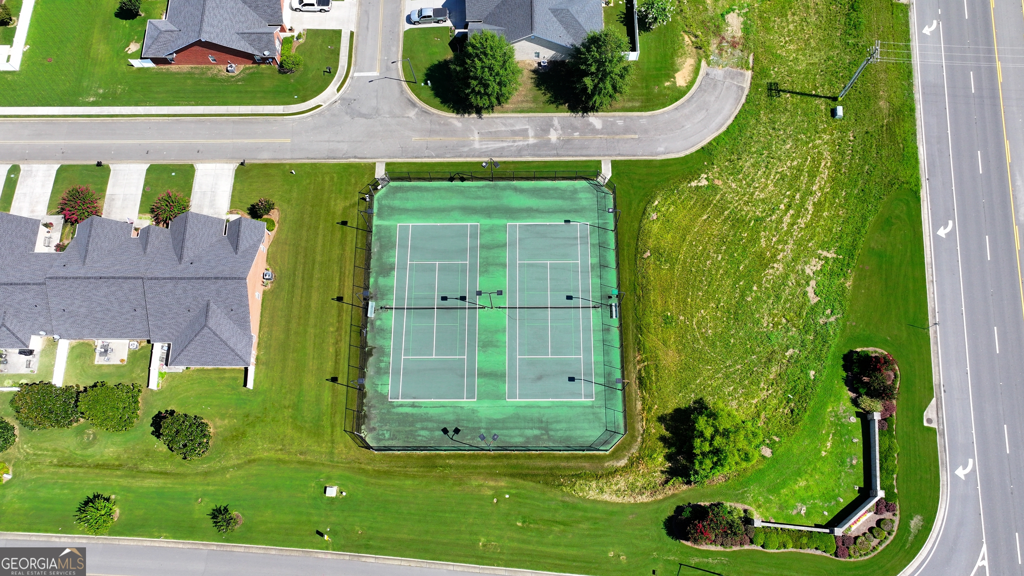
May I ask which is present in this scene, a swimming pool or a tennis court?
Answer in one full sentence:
This aerial view contains a tennis court.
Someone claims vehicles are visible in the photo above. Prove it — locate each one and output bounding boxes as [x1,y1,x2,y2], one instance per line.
[289,0,331,13]
[409,7,447,26]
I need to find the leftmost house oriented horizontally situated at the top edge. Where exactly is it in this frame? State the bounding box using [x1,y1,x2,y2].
[141,0,288,66]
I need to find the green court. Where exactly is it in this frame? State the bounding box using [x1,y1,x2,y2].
[361,180,625,452]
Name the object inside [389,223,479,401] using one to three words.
tennis court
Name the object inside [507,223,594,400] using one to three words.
tennis court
